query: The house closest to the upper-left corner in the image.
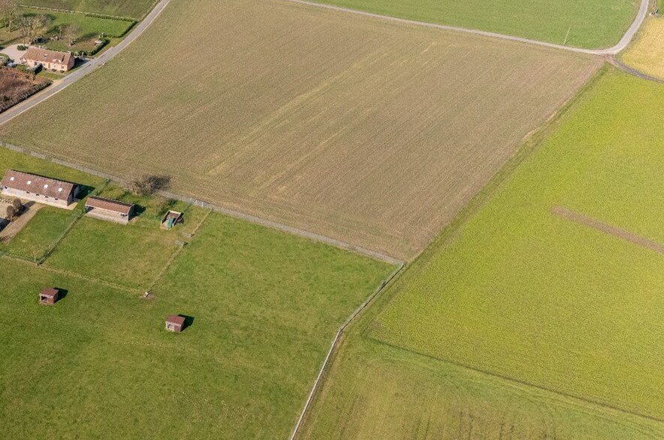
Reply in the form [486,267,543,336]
[21,49,74,72]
